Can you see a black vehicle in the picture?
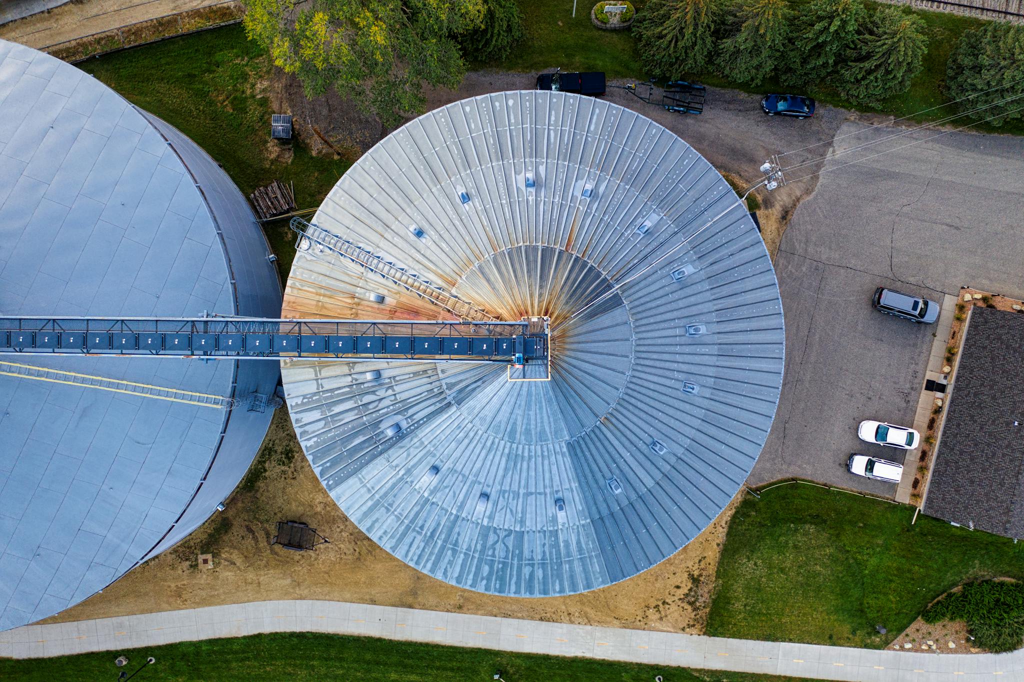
Yes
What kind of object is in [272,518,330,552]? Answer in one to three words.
trailer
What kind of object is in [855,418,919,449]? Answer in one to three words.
car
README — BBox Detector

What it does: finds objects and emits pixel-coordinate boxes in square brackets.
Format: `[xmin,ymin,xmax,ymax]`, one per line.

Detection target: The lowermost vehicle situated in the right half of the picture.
[844,451,906,484]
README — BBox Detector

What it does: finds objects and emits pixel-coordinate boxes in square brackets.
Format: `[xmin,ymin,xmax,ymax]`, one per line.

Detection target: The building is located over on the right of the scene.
[912,305,1024,536]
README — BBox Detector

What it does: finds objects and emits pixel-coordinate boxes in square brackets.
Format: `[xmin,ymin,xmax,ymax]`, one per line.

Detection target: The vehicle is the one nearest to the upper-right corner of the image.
[759,91,816,121]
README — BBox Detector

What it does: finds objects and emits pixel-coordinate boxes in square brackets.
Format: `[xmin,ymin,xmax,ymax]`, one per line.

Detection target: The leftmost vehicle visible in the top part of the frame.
[536,61,607,98]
